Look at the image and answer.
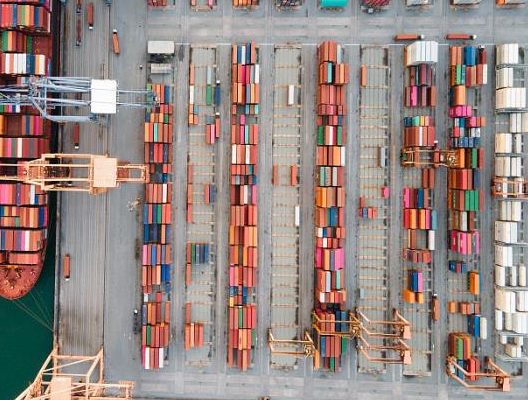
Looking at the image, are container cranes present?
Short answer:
Yes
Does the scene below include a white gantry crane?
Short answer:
Yes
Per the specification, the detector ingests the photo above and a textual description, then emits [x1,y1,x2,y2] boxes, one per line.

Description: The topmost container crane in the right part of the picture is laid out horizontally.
[403,148,462,168]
